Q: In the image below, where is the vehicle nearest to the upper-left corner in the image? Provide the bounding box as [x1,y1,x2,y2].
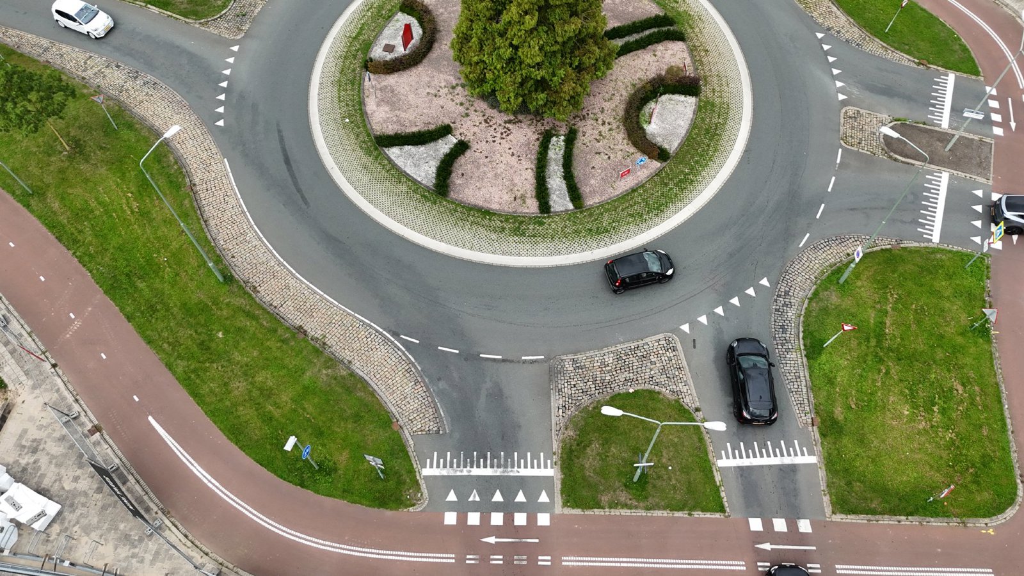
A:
[48,0,116,39]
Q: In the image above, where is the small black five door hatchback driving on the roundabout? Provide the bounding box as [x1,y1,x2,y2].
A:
[600,242,675,295]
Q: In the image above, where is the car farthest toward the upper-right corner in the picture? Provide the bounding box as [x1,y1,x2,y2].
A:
[991,196,1024,239]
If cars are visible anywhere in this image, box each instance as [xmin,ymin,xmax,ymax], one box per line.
[991,196,1024,239]
[600,242,675,295]
[726,337,782,427]
[767,565,812,576]
[48,0,116,39]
